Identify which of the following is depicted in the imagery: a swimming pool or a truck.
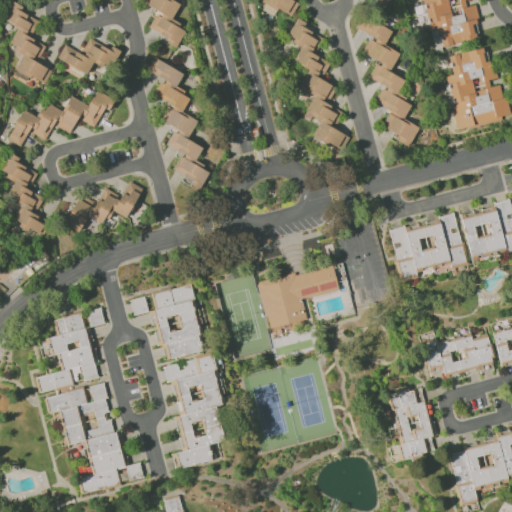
swimming pool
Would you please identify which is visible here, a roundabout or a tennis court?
tennis court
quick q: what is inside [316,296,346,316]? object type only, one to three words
swimming pool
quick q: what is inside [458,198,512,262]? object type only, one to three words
building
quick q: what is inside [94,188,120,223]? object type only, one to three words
house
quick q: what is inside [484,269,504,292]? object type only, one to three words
swimming pool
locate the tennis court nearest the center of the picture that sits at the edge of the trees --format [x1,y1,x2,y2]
[217,276,272,358]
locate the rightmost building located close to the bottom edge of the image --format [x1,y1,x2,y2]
[450,434,512,506]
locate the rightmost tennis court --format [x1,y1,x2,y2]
[280,358,338,440]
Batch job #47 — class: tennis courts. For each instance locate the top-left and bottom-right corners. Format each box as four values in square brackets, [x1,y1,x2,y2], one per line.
[217,276,272,358]
[280,358,338,440]
[244,368,300,452]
